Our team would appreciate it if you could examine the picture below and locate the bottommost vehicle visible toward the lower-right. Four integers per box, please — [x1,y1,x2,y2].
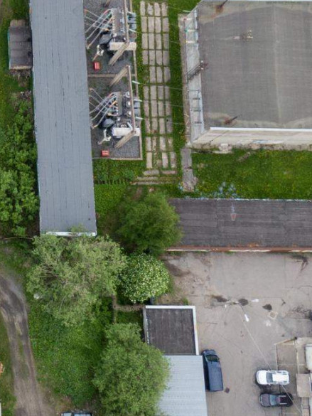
[258,391,294,409]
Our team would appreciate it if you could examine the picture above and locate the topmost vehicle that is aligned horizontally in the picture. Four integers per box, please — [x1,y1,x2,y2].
[255,369,290,386]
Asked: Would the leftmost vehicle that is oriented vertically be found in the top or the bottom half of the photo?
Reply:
bottom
